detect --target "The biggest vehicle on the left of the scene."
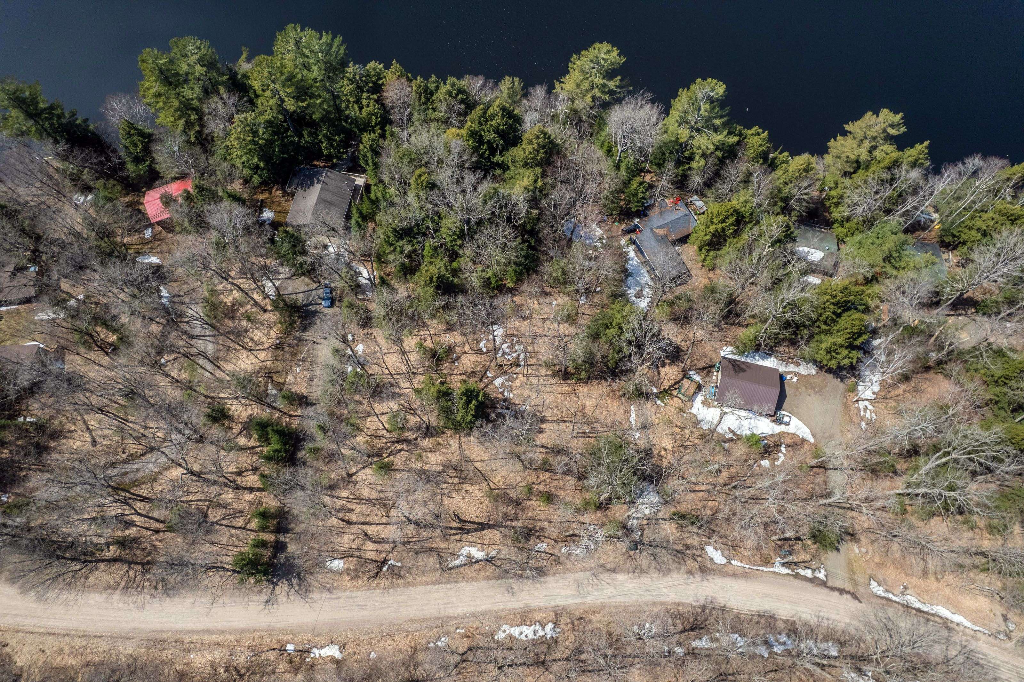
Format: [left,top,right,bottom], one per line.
[317,286,332,307]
